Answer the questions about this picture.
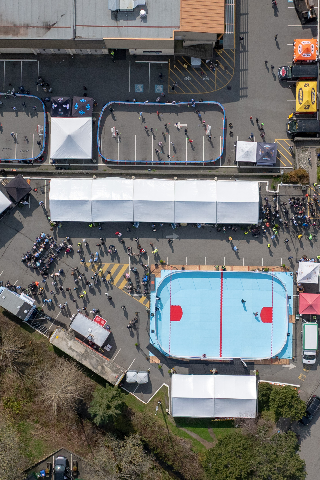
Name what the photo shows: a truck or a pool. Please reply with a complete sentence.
Of the two, only a truck appears.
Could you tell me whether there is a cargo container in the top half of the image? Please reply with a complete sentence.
No, I can find no cargo container in the top half of the image.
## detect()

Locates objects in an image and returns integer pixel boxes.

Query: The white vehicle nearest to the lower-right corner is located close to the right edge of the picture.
[300,322,318,361]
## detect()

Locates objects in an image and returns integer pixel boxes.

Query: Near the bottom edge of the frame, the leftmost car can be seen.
[52,455,69,480]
